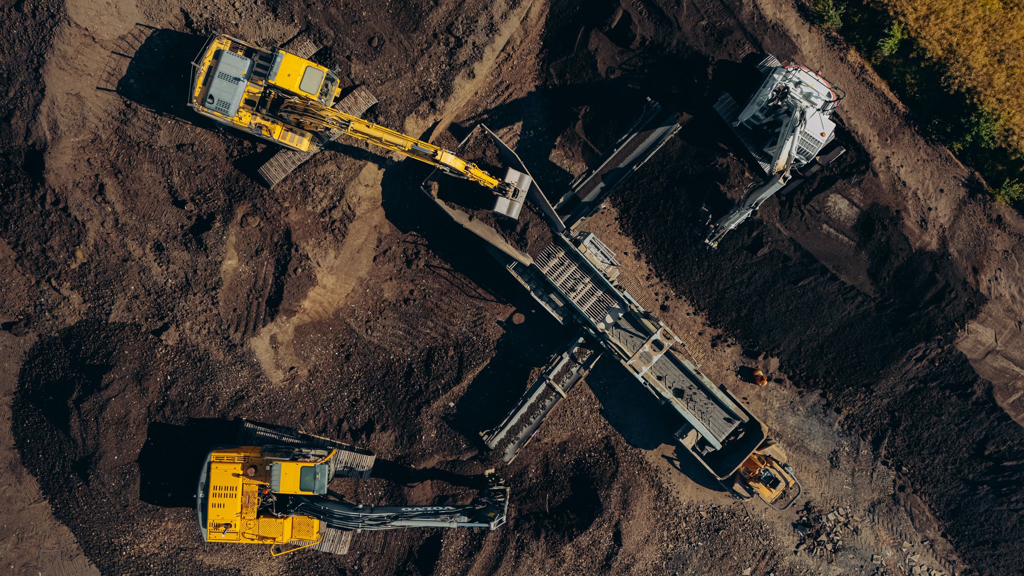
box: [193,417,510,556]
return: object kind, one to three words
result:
work vehicle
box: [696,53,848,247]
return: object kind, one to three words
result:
work vehicle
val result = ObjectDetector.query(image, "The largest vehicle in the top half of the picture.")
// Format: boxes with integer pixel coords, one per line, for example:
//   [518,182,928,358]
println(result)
[187,30,535,222]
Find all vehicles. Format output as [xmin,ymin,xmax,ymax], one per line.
[672,384,802,512]
[696,53,848,247]
[187,30,535,222]
[193,417,510,556]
